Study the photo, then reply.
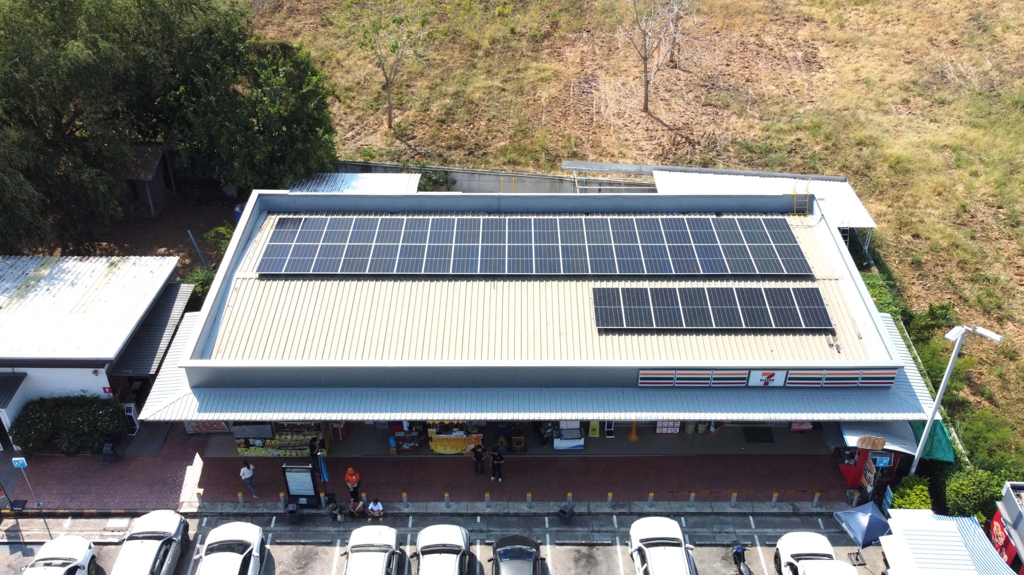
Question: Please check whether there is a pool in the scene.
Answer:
No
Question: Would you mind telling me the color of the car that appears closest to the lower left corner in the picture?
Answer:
white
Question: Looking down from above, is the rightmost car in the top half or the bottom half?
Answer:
bottom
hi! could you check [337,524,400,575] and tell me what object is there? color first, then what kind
white car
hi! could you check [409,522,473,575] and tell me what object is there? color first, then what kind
white car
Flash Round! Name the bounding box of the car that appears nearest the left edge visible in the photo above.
[17,534,91,575]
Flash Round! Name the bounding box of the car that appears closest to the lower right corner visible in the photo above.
[782,531,855,575]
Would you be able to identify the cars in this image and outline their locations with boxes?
[337,524,400,575]
[409,522,473,575]
[17,534,91,575]
[630,516,697,575]
[782,531,855,575]
[485,534,548,575]
[105,510,184,575]
[192,521,259,575]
